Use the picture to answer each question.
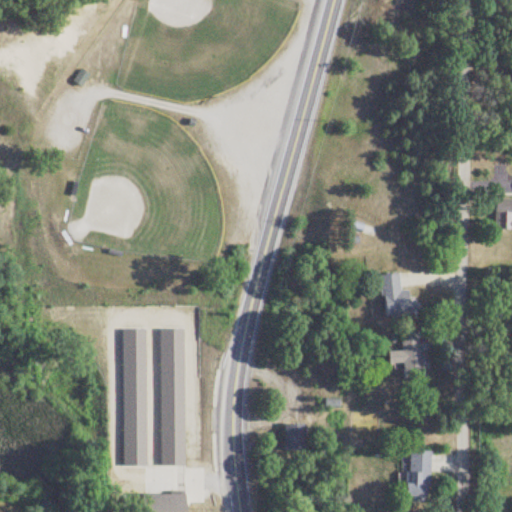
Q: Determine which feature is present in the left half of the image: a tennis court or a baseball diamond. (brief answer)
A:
baseball diamond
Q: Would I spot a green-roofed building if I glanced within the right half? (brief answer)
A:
No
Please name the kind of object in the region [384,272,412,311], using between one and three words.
house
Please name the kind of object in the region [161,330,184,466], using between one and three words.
building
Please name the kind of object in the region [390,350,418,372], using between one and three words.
house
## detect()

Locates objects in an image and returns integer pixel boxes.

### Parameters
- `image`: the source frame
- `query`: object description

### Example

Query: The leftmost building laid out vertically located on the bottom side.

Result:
[124,330,147,466]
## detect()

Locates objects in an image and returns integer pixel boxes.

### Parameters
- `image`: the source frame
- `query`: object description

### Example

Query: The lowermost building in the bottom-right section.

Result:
[408,452,434,498]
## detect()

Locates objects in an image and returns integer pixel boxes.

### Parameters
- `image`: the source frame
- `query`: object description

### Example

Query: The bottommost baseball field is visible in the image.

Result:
[66,98,224,262]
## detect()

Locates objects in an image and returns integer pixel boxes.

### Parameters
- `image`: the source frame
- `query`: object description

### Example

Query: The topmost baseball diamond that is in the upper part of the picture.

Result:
[118,0,300,102]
